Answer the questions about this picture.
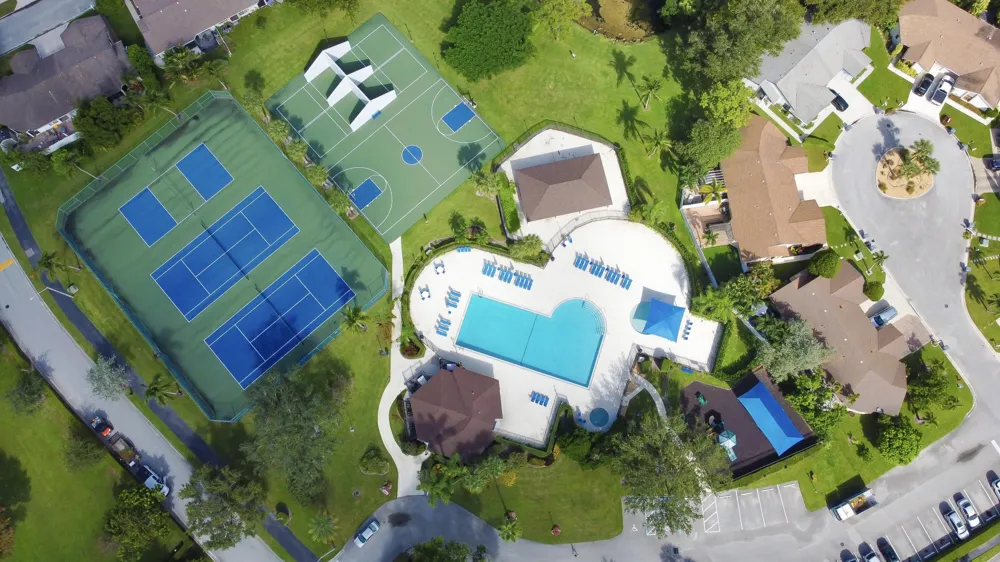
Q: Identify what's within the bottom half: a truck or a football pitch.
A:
truck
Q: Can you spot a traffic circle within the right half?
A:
Yes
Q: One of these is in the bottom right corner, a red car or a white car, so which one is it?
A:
white car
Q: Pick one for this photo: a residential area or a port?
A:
residential area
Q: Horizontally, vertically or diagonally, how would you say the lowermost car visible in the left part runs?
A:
diagonally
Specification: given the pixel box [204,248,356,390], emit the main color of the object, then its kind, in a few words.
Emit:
blue tennis court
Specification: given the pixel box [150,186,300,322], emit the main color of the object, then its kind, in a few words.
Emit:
blue tennis court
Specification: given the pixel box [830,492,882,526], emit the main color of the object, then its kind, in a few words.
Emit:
white truck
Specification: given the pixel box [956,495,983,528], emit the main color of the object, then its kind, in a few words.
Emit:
white car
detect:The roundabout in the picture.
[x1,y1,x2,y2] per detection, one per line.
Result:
[875,146,937,199]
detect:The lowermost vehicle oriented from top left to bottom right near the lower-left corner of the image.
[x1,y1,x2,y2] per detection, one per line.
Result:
[133,466,167,496]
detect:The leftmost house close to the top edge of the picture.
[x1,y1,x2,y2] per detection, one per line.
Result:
[0,16,127,152]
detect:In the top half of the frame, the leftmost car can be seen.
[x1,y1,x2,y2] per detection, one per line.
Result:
[830,85,852,112]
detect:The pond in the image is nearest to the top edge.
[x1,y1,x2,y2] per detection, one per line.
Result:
[576,0,675,43]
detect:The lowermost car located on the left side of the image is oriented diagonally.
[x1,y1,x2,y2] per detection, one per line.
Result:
[352,519,381,548]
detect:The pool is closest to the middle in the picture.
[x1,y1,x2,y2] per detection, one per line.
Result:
[454,292,606,389]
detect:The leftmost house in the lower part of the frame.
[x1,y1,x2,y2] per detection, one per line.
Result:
[410,366,503,458]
